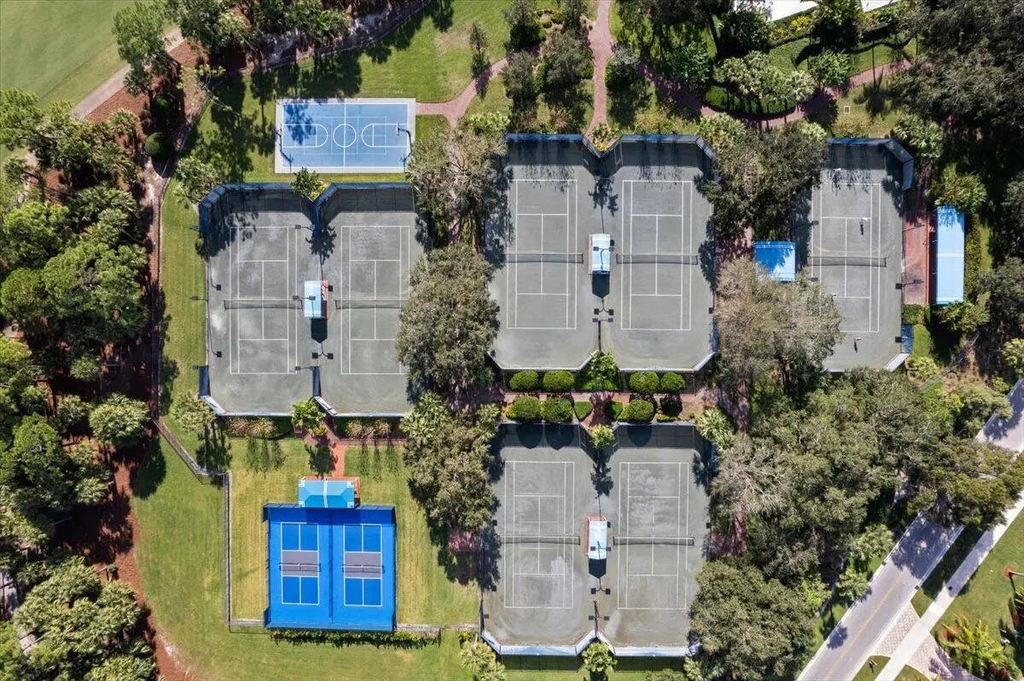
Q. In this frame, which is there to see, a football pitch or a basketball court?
basketball court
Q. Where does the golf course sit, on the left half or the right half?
left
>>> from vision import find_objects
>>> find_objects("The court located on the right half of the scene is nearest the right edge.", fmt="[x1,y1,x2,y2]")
[790,144,904,370]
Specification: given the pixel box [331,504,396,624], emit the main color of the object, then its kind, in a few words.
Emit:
blue sports court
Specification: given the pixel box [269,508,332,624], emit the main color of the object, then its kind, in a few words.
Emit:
blue sports court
